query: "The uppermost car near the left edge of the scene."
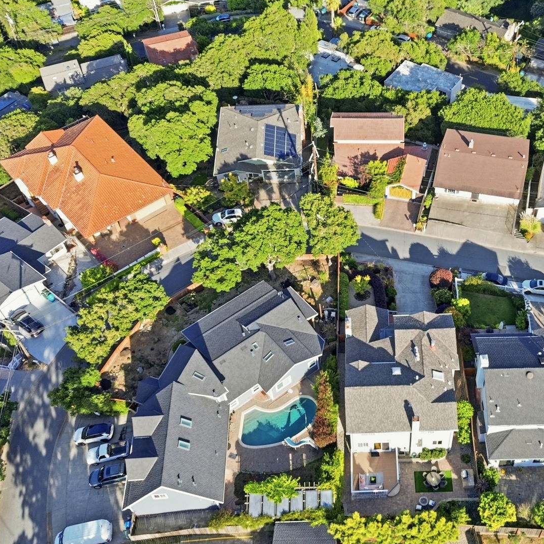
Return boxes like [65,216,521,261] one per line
[11,314,43,338]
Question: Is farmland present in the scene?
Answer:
No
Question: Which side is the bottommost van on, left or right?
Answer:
left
